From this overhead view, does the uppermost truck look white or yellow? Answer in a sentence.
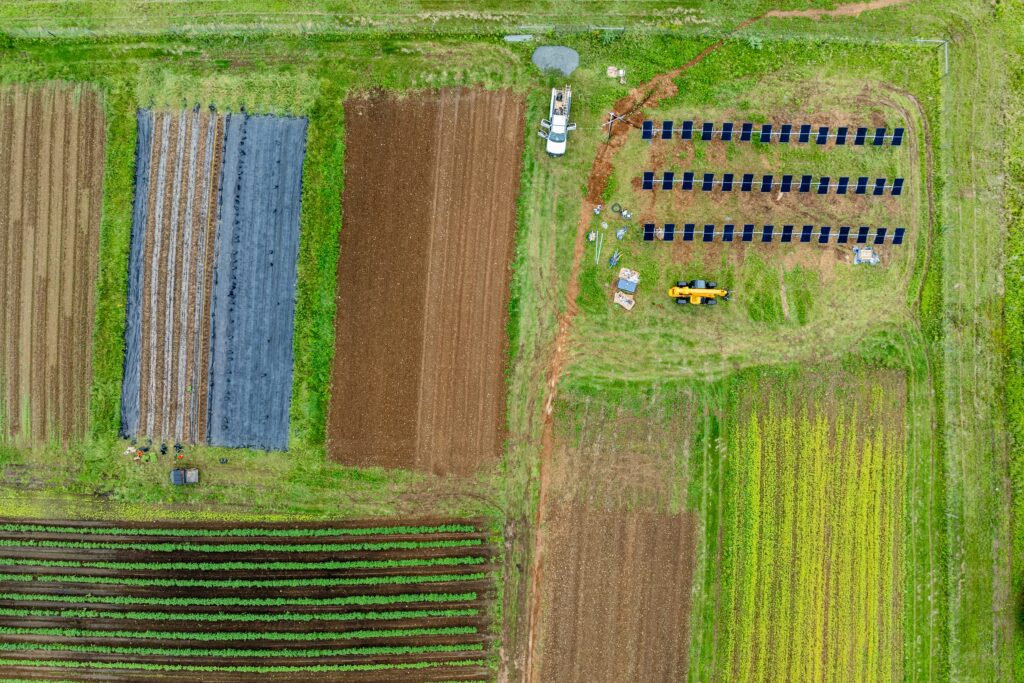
In this view, the uppermost truck is white.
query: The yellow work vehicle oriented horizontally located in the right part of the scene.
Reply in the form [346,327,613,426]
[669,280,736,304]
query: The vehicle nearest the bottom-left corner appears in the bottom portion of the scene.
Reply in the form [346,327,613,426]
[170,468,199,485]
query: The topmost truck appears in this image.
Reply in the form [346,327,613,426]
[537,87,576,159]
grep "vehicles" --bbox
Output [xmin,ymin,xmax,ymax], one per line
[537,87,576,159]
[669,280,736,304]
[170,468,199,485]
